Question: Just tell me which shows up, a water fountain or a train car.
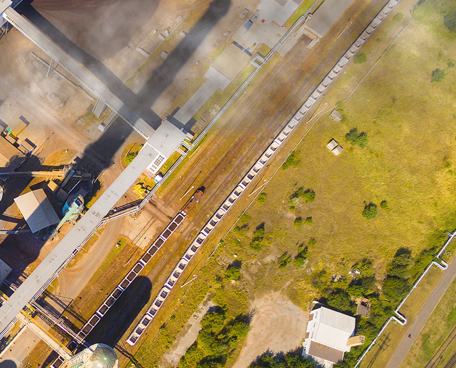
train car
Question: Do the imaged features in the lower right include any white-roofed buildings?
Yes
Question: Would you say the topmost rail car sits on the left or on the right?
right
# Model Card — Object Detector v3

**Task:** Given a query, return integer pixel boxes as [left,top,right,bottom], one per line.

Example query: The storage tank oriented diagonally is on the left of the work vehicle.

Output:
[52,192,84,236]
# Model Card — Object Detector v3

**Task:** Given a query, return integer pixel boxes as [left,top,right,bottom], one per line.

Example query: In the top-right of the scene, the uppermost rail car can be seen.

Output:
[377,0,398,20]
